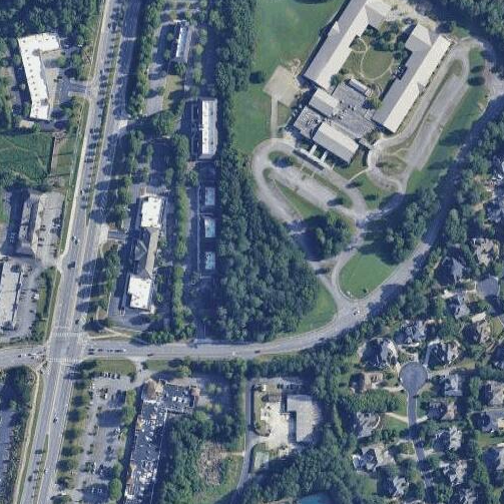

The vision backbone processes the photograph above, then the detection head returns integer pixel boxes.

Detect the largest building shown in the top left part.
[18,32,60,120]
